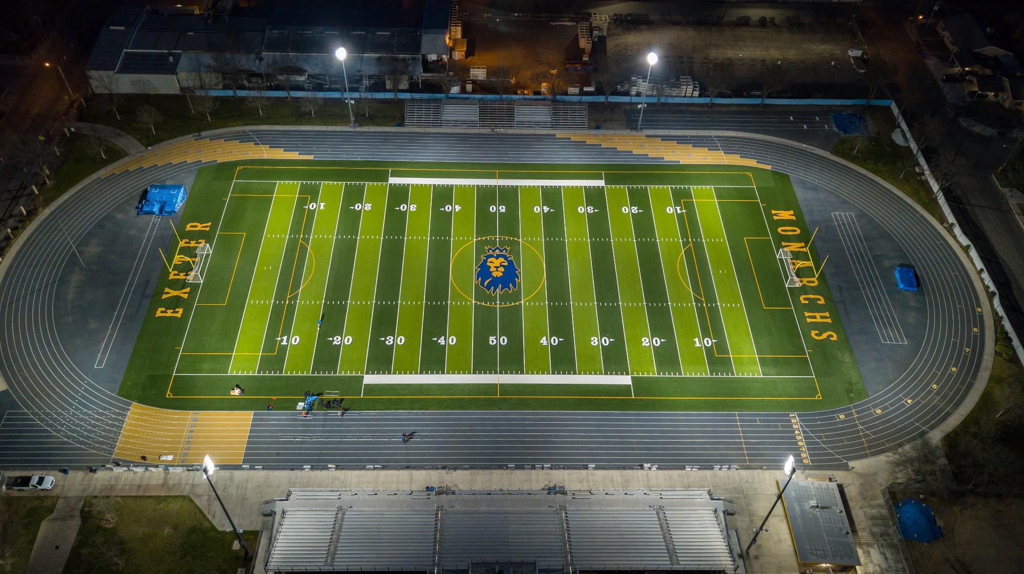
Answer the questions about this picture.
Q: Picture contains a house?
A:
Yes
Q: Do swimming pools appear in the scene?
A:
No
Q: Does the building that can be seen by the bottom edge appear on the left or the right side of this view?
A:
right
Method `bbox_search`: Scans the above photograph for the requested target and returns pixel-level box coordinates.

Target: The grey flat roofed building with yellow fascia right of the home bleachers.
[778,482,861,569]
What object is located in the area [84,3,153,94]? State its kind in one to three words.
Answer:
house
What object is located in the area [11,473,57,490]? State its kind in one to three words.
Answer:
vehicle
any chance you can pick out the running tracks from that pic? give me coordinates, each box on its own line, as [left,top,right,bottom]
[0,114,986,468]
